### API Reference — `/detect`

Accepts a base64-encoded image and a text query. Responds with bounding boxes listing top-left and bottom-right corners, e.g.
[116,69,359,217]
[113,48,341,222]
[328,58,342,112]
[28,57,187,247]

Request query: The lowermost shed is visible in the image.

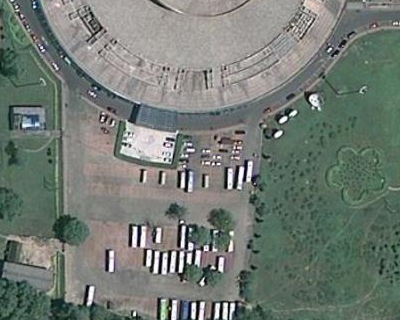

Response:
[0,262,54,288]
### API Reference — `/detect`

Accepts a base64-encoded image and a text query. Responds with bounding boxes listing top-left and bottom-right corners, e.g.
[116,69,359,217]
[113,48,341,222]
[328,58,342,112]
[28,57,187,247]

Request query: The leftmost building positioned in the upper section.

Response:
[10,108,46,130]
